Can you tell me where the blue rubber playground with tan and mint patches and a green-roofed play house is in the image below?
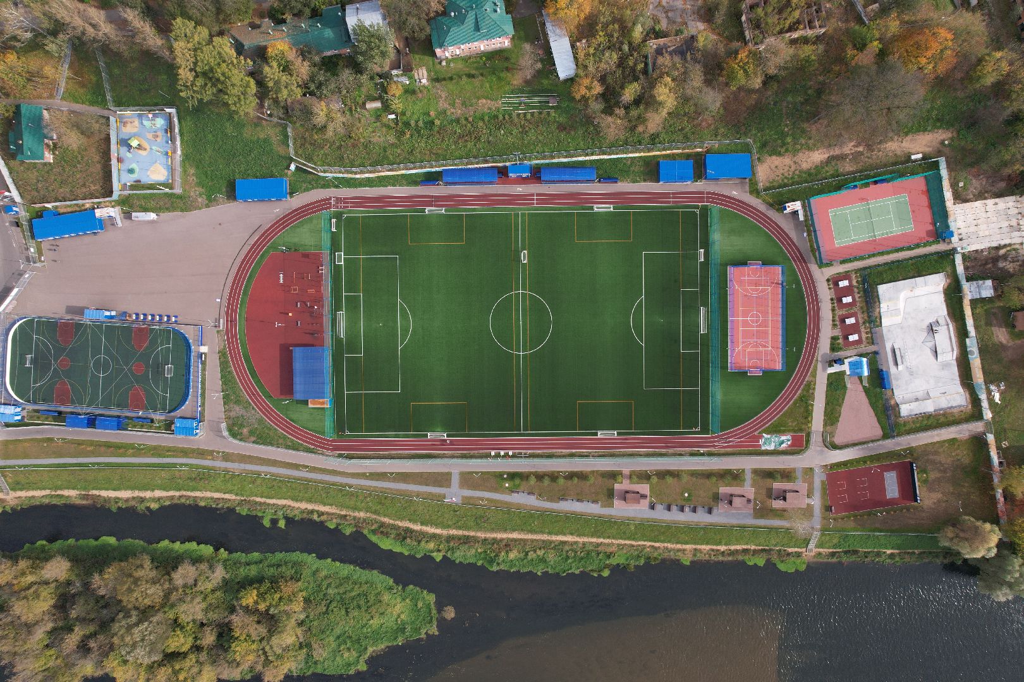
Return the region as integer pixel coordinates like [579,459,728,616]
[117,113,171,183]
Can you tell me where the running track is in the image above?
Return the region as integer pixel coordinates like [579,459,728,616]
[225,191,821,451]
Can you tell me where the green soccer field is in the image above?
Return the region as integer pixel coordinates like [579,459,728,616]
[239,204,807,439]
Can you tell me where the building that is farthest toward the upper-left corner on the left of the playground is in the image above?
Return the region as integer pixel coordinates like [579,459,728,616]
[9,103,61,163]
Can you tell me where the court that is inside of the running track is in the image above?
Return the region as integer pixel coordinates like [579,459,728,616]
[729,262,782,375]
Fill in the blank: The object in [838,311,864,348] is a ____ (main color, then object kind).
red tennis court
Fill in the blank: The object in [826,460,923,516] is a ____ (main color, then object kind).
red sports court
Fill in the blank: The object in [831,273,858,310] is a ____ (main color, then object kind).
red tennis court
